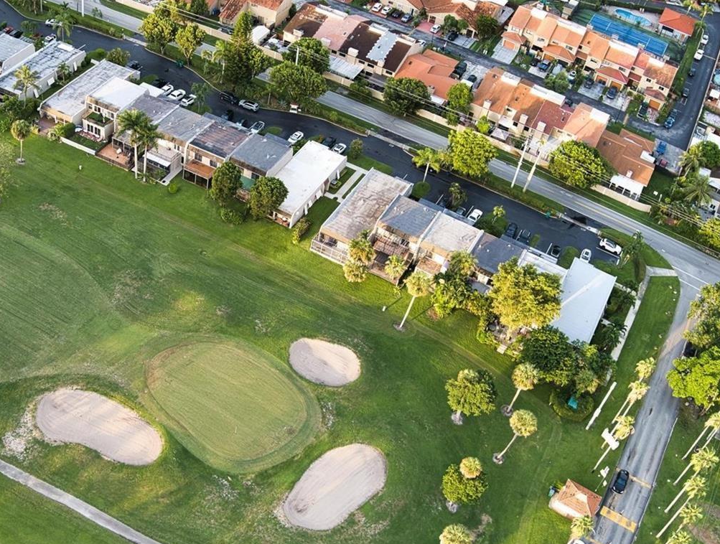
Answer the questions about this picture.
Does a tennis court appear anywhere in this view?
Yes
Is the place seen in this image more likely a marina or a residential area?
residential area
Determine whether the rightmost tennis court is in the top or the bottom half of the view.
top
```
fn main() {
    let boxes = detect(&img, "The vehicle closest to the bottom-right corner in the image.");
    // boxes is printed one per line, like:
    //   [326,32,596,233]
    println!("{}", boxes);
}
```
[610,468,629,496]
